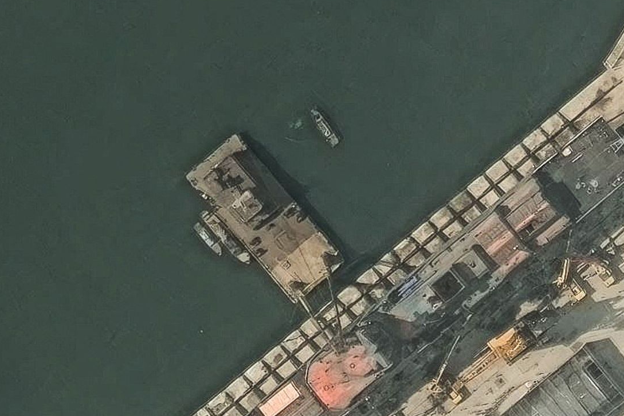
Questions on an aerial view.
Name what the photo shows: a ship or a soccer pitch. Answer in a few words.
ship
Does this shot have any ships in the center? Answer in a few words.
Yes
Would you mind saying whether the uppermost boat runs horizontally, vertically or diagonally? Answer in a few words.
diagonally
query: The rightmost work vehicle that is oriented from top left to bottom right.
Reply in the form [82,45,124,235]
[587,257,615,285]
